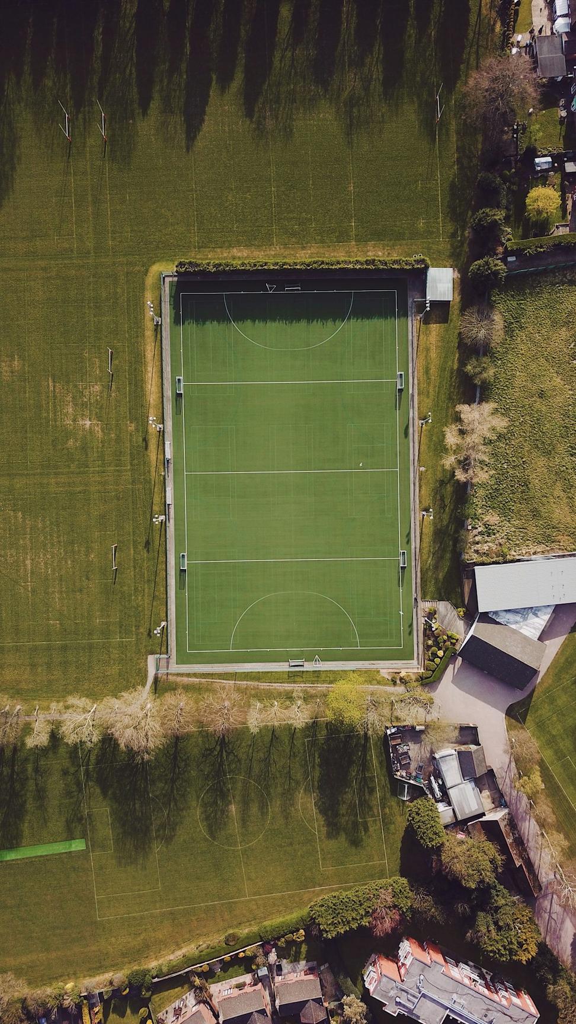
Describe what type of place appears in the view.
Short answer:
sports ground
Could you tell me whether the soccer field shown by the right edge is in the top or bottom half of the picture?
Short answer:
bottom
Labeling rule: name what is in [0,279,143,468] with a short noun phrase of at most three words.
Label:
sports field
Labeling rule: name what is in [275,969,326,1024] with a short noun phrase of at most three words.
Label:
house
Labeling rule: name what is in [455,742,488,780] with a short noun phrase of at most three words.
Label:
shed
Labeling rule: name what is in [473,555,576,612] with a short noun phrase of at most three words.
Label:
building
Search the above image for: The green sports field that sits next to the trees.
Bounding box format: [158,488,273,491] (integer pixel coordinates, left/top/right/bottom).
[163,272,427,674]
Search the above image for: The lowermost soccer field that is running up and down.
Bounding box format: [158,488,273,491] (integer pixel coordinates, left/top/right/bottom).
[517,677,576,813]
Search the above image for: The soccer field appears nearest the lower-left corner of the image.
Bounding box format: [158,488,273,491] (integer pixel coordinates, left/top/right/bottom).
[76,714,390,922]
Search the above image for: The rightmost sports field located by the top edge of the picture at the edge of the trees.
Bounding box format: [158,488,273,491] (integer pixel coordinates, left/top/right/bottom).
[90,0,460,256]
